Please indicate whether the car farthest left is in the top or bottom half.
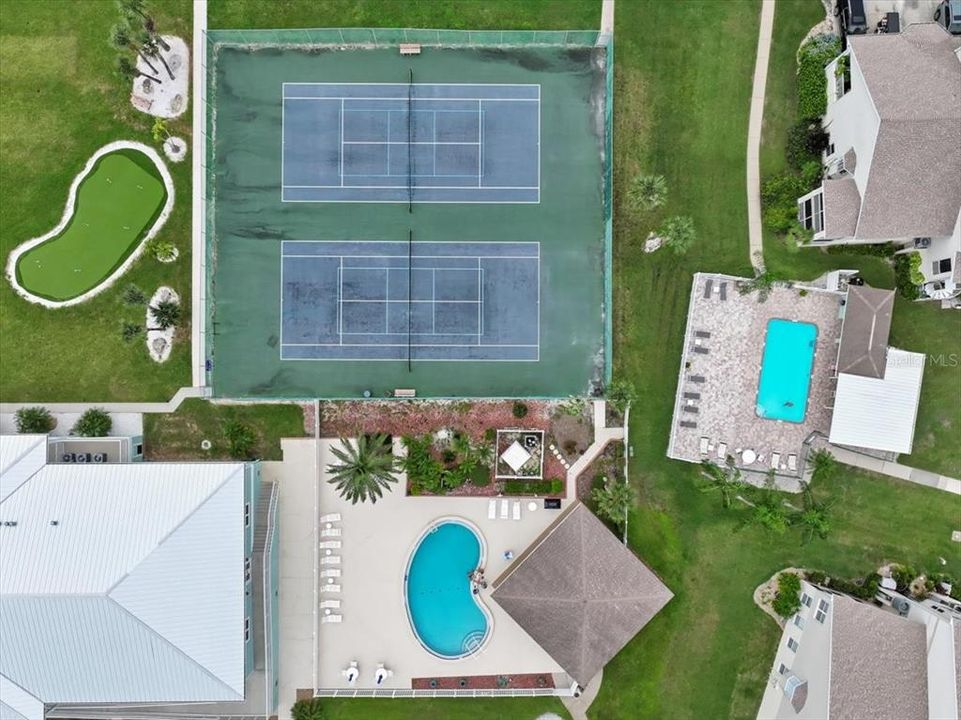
top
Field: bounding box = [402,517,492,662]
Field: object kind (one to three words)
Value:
swimming pool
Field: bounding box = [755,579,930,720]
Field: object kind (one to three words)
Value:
house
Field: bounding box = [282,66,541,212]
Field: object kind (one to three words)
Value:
tennis court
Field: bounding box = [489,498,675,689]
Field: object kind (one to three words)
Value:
building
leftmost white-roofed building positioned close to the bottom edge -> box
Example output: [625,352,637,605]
[0,433,279,720]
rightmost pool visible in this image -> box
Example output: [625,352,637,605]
[754,315,820,426]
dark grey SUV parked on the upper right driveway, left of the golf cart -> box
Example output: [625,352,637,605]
[834,0,865,38]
